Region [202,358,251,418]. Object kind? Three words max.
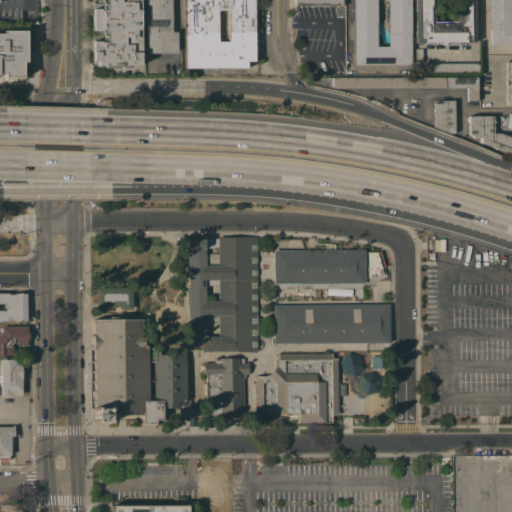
house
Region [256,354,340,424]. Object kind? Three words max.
building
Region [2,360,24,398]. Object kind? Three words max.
house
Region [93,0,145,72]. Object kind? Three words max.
building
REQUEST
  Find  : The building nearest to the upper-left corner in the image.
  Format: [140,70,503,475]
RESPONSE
[0,31,30,78]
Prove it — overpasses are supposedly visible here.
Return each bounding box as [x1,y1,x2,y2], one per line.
[0,106,512,254]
